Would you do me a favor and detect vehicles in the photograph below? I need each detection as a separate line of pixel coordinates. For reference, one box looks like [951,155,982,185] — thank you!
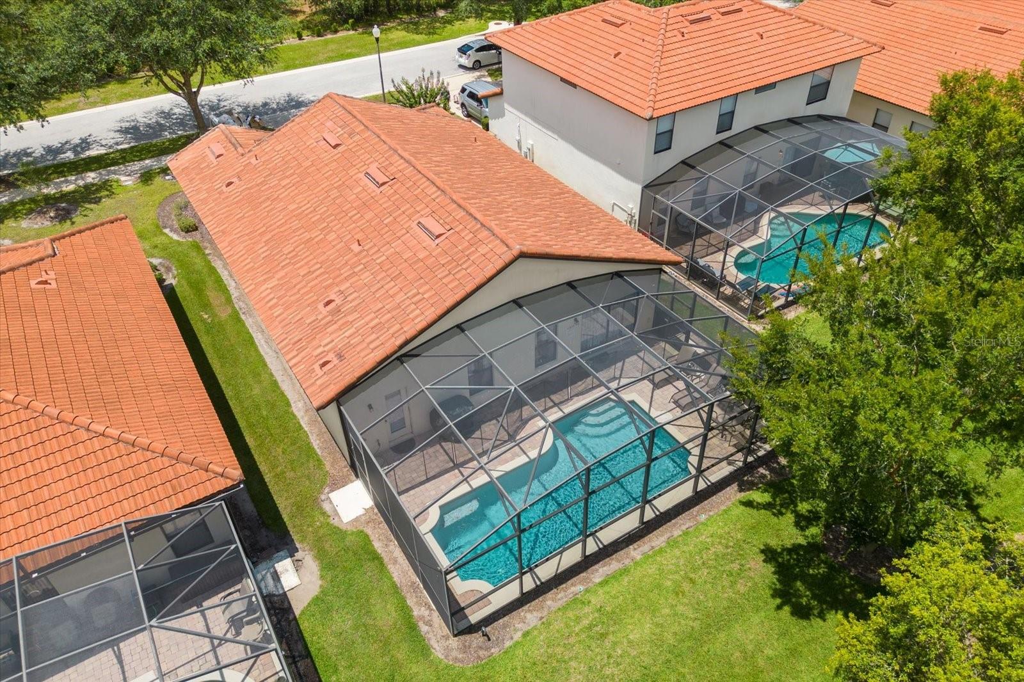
[454,35,501,69]
[454,72,504,128]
